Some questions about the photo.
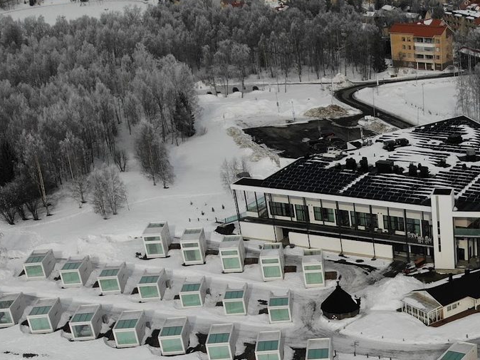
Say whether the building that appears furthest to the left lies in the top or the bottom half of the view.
bottom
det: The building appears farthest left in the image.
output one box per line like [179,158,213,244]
[0,292,27,331]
